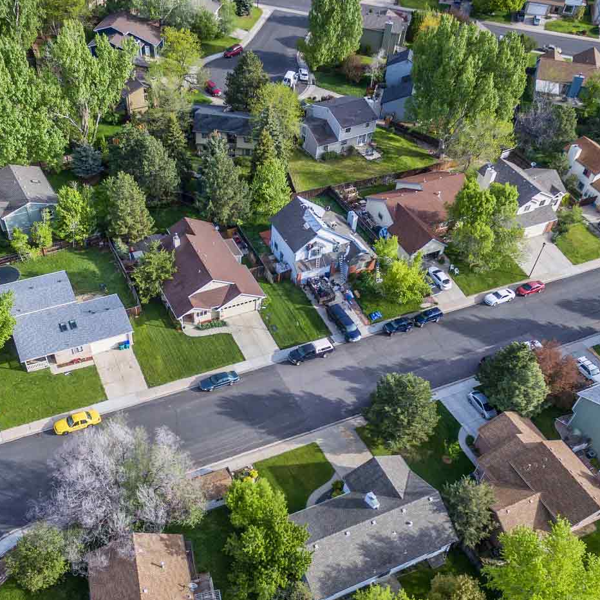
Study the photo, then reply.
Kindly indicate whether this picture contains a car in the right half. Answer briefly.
Yes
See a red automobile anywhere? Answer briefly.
Yes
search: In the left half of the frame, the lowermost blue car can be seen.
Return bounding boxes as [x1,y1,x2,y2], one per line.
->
[197,369,242,394]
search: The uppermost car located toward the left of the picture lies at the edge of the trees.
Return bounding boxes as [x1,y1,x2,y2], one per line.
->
[225,42,241,55]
